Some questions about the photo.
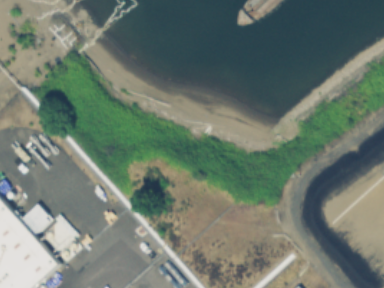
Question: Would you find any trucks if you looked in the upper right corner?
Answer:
No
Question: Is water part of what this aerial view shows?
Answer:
Yes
